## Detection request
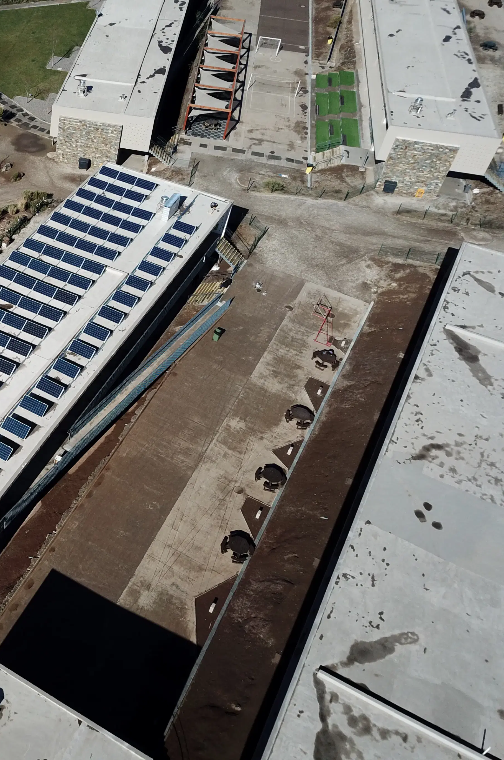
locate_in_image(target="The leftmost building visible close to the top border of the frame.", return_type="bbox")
[50,0,193,162]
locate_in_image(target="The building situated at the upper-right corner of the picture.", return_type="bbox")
[356,0,503,192]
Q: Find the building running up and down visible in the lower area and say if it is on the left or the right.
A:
right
